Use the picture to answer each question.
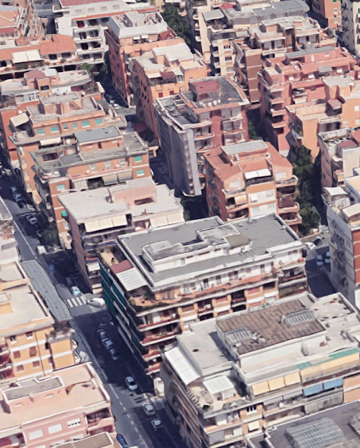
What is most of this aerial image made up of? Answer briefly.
buildings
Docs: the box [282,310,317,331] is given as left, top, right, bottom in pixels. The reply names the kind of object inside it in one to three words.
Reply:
solar panel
